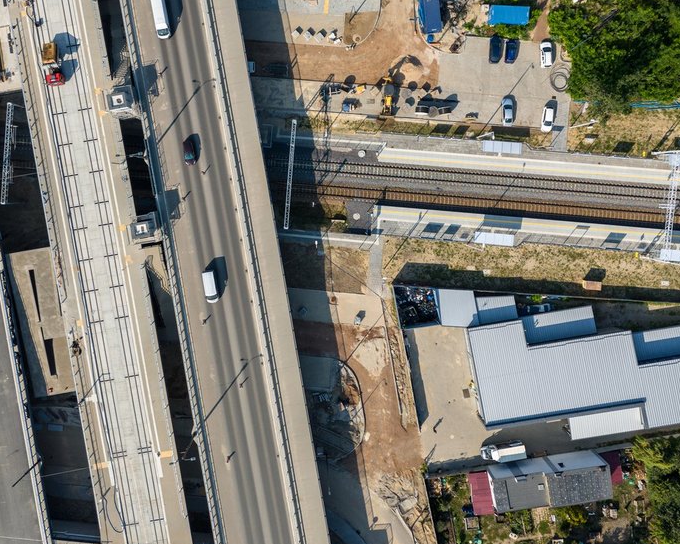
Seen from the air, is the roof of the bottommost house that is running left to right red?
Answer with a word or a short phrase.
No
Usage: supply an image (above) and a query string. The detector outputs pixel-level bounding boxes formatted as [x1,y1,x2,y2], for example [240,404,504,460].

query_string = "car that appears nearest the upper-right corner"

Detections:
[537,43,552,69]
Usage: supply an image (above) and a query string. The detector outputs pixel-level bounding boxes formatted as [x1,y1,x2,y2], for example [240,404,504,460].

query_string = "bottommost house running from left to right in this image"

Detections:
[487,450,612,514]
